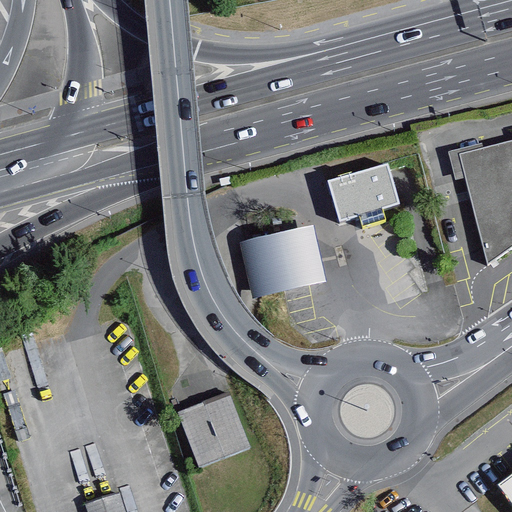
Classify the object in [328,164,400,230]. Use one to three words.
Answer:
building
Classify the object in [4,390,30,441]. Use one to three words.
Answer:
trailer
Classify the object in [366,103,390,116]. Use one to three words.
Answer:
vehicle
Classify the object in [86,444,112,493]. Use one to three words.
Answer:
truck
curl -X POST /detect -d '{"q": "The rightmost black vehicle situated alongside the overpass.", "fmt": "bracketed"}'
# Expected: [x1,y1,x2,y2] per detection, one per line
[301,354,327,366]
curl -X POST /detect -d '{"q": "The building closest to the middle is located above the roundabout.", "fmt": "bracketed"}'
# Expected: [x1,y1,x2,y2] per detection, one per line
[240,225,326,298]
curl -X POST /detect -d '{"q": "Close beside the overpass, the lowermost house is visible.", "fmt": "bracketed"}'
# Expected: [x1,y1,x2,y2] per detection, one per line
[182,390,251,468]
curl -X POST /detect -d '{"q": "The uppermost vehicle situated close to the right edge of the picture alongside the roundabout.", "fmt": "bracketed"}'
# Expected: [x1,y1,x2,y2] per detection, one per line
[466,328,486,345]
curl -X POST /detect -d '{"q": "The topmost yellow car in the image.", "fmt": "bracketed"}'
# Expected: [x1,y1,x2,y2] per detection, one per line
[106,322,128,342]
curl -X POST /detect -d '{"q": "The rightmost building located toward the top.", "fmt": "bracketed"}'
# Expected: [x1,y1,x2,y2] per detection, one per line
[448,140,512,267]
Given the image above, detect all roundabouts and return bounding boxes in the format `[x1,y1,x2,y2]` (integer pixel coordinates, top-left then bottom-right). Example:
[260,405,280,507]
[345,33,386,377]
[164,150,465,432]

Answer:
[288,340,464,512]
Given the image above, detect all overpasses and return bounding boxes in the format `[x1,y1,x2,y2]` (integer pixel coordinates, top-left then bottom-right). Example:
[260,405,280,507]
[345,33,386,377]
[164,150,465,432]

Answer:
[144,0,302,399]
